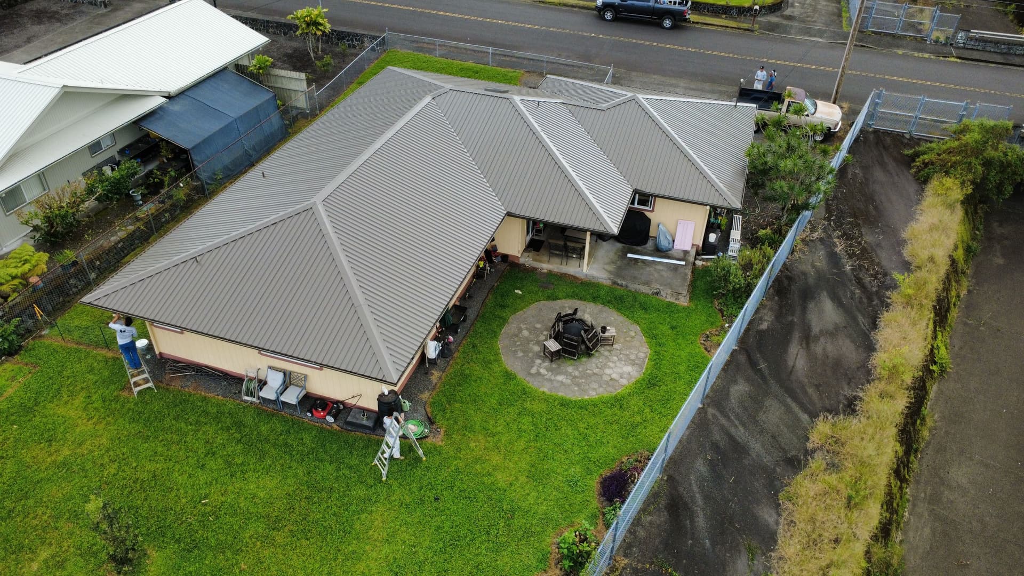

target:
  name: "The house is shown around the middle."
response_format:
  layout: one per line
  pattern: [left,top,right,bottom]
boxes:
[77,65,759,412]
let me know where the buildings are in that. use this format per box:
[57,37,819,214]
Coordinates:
[0,1,272,255]
[77,65,759,412]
